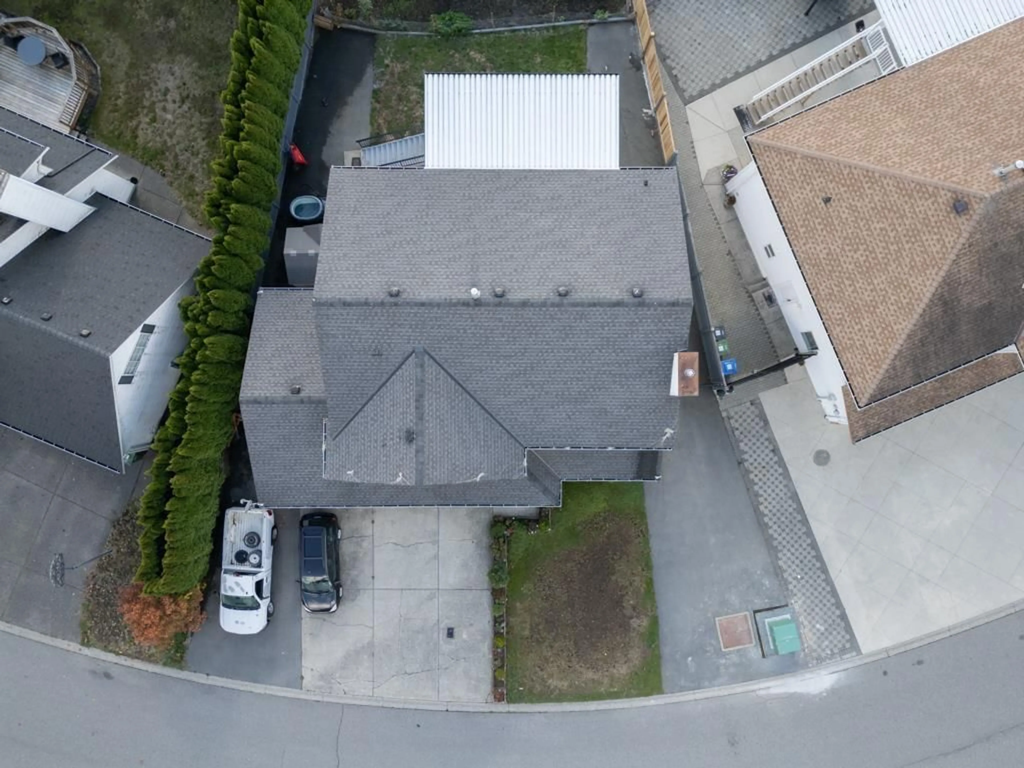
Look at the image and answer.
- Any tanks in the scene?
No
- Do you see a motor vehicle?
Yes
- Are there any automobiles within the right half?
No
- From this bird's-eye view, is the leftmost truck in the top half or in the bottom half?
bottom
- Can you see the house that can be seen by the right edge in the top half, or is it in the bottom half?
top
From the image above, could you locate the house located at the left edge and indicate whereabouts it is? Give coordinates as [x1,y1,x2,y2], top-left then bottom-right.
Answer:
[0,103,217,475]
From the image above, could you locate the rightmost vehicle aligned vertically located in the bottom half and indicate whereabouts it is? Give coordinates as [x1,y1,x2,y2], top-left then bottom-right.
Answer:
[293,510,345,613]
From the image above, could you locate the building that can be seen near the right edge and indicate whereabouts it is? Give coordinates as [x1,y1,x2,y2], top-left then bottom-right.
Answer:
[727,0,1024,446]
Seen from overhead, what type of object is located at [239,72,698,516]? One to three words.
house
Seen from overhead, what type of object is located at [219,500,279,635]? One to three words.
truck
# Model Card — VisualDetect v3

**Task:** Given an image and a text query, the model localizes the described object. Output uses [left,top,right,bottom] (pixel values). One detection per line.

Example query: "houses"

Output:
[727,0,1024,446]
[239,72,698,516]
[0,103,217,475]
